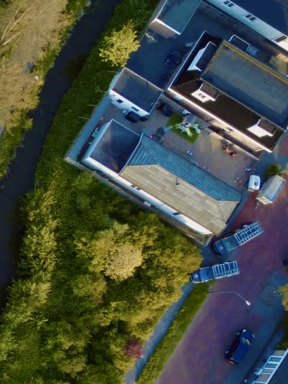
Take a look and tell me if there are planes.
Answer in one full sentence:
No, the frame has no plane in it.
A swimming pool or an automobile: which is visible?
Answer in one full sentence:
There is an automobile in the scene.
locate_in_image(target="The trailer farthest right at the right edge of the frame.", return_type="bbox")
[253,173,288,212]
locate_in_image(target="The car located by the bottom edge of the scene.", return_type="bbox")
[222,326,254,366]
